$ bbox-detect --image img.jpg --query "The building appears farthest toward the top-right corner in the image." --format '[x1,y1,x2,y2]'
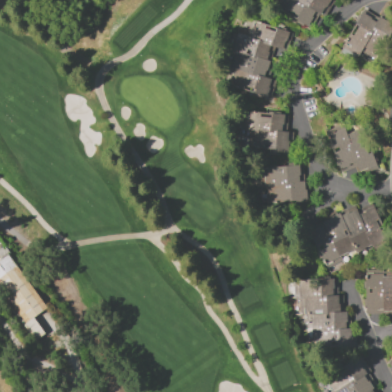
[344,8,392,56]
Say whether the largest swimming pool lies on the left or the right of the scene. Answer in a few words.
right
